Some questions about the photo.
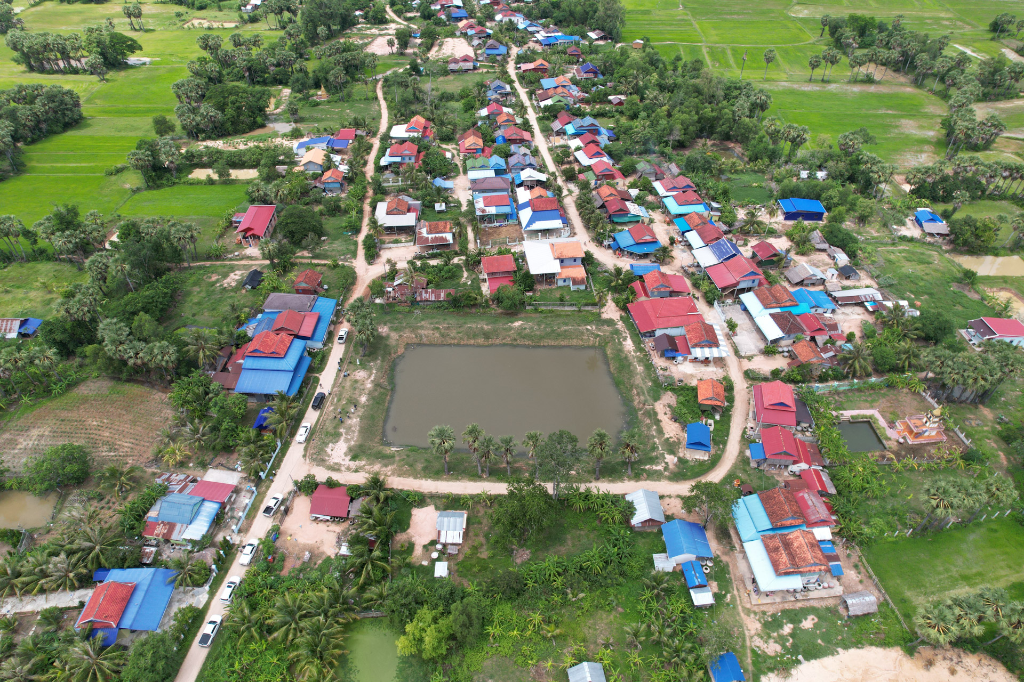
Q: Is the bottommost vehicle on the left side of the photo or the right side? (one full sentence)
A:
It is on the left.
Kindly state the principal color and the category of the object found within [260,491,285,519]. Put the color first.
white vehicle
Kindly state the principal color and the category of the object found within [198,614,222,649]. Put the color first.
white vehicle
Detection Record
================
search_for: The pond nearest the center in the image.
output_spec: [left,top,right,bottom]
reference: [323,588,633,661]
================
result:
[382,344,625,450]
